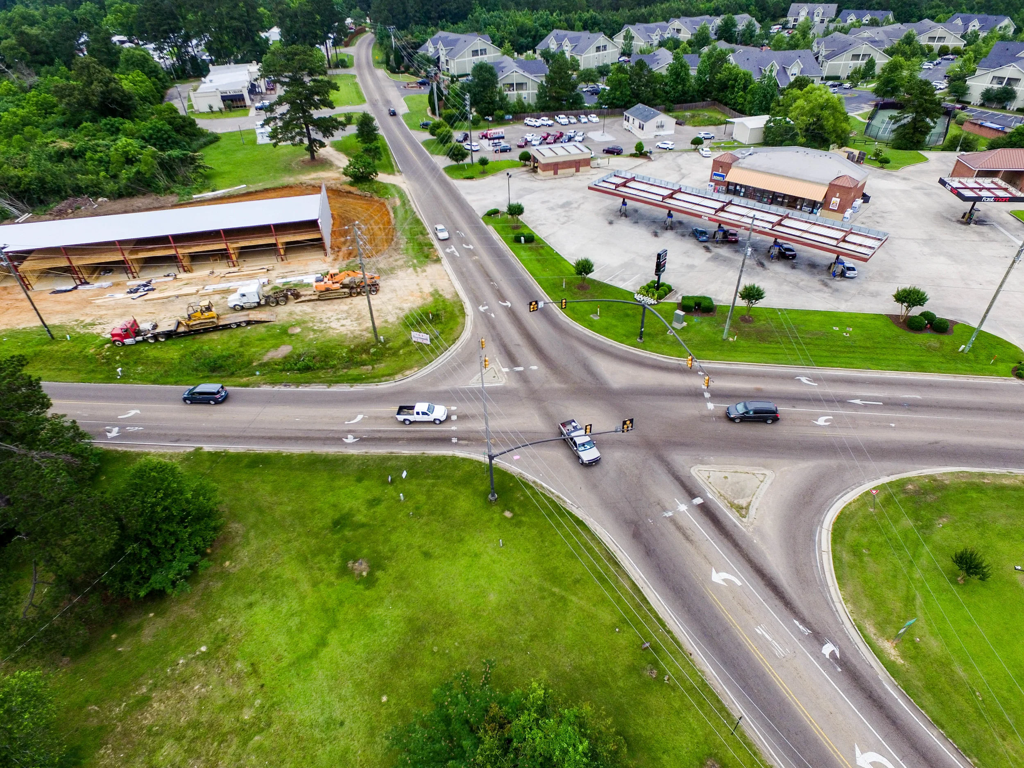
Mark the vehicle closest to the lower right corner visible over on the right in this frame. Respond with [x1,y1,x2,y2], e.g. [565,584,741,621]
[726,400,780,424]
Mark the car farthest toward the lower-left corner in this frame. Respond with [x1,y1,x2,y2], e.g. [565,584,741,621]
[177,382,228,405]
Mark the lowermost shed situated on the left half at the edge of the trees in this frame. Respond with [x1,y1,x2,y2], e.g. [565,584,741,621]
[0,183,331,292]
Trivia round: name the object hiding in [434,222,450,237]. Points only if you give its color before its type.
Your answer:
white car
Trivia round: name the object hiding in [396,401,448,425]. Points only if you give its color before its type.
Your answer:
white truck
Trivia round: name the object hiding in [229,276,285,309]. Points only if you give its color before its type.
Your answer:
white truck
